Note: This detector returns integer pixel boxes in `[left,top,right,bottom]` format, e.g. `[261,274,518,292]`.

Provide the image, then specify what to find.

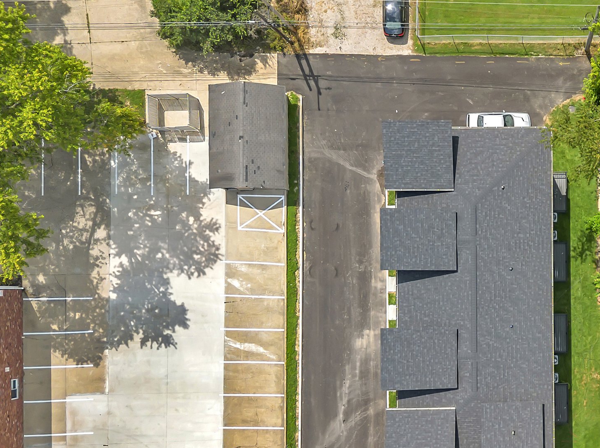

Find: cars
[383,0,407,39]
[468,108,531,126]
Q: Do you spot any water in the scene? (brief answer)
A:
No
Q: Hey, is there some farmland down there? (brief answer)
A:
No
